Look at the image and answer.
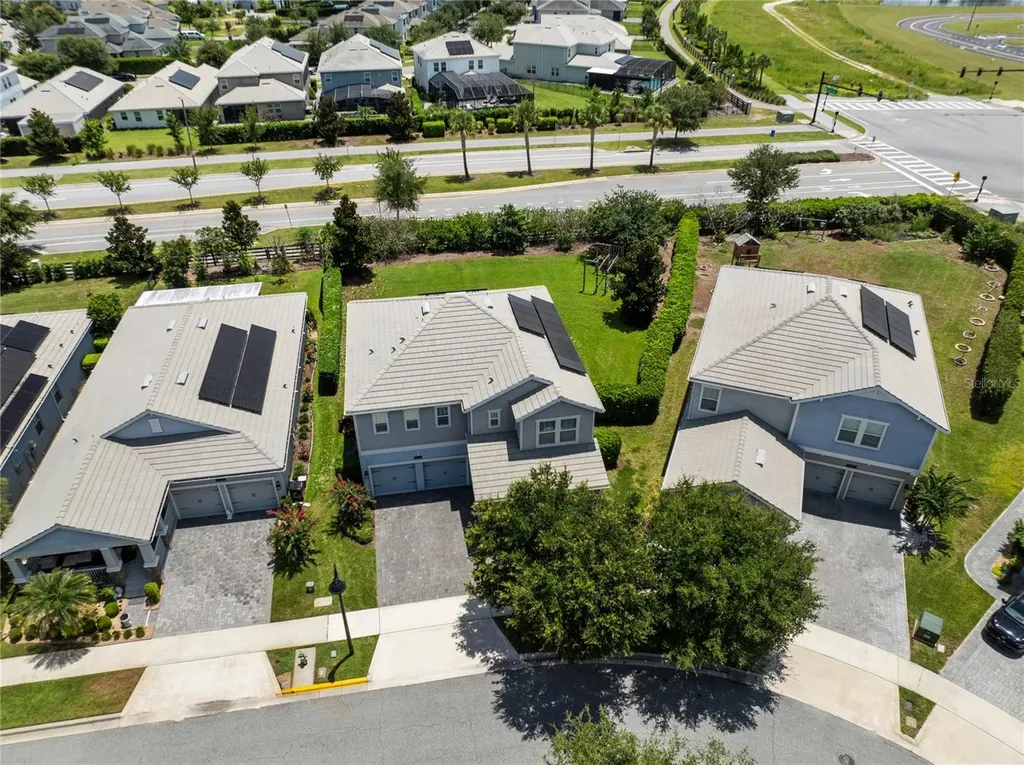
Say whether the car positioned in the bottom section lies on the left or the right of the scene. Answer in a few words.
right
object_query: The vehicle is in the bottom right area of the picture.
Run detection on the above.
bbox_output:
[989,579,1024,654]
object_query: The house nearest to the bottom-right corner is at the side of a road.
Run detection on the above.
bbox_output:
[660,264,952,540]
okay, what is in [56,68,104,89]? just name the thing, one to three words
solar panel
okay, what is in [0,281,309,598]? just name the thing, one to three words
house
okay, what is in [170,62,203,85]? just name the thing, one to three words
solar panel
